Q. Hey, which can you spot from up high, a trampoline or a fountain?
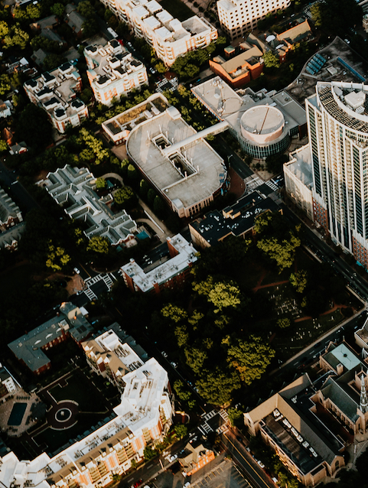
fountain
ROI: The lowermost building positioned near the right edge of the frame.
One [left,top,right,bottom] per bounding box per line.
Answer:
[239,341,368,482]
